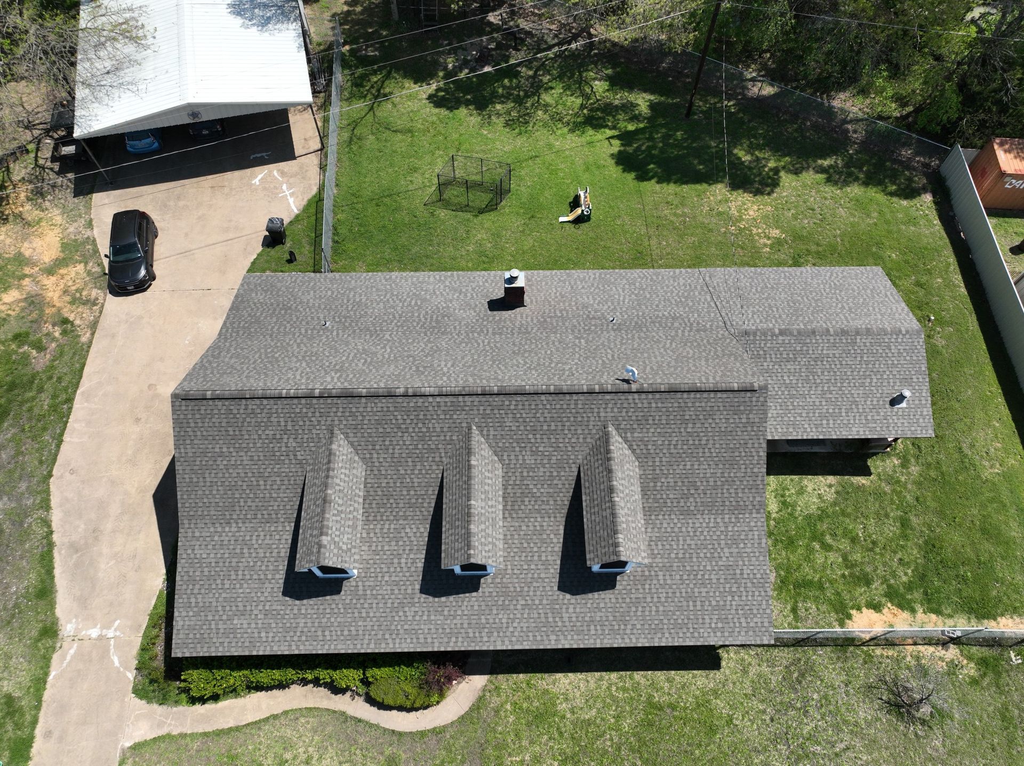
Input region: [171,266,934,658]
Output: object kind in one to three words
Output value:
house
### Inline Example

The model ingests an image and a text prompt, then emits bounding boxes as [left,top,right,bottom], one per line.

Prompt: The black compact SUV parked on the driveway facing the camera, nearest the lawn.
[101,206,162,293]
